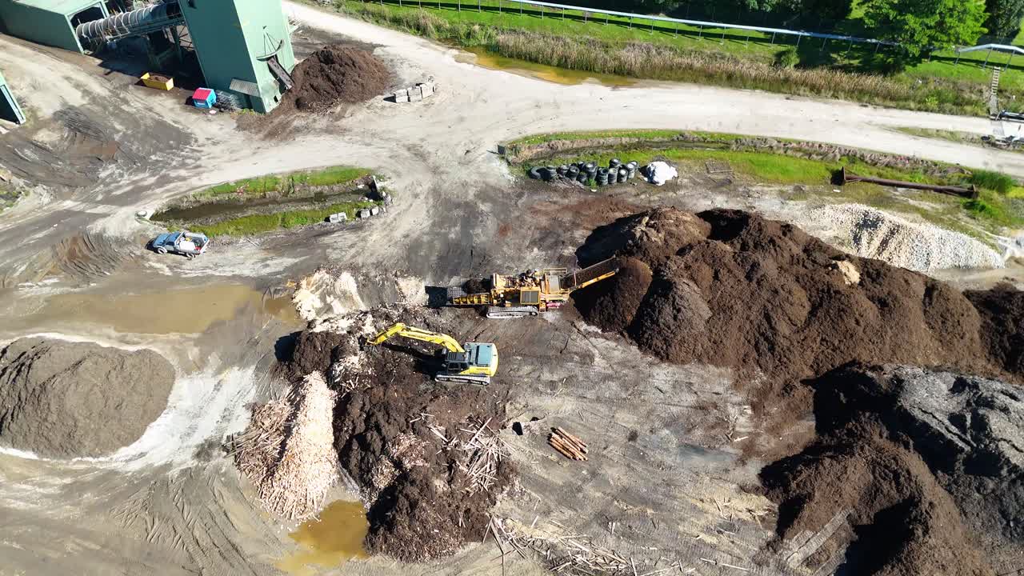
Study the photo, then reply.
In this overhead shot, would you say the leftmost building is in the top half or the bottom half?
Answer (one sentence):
Seen from above, the leftmost building lies in the top half of the view.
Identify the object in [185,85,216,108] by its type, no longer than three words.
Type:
shed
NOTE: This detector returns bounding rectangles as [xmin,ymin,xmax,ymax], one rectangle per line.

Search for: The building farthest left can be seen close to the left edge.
[0,62,32,123]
